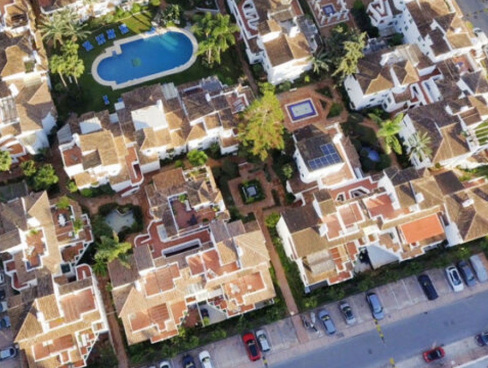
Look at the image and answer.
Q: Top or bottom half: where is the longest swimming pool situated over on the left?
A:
top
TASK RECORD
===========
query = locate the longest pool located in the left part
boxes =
[92,27,197,90]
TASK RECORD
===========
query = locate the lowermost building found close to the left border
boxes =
[6,270,110,368]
